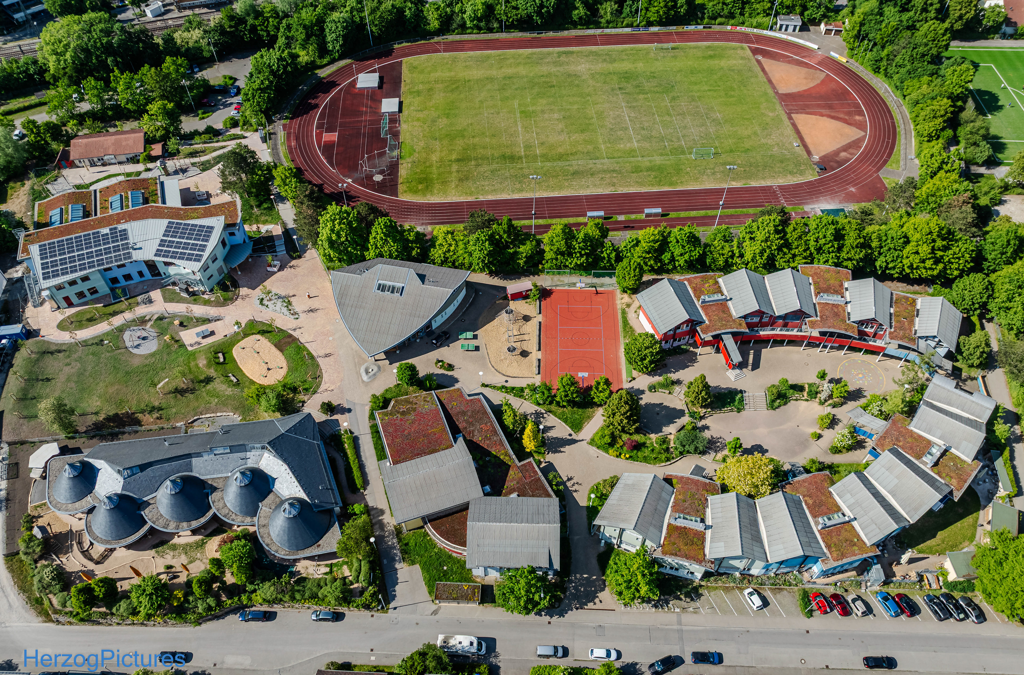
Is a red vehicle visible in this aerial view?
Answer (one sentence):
Yes, I can see a red vehicle in this picture.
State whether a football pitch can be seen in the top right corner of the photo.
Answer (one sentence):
Yes, a football pitch appears in the top right corner of the photo.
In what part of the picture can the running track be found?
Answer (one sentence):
The running track appears toward the top of the photo.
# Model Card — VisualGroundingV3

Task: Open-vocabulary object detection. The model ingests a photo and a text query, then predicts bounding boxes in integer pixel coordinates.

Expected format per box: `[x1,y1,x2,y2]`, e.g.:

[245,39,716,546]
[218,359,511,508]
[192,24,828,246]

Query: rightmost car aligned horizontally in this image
[861,653,899,671]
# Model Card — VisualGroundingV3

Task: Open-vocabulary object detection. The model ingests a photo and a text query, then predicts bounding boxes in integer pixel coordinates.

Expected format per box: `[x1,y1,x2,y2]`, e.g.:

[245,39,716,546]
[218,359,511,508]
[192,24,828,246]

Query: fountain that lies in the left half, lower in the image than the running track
[361,361,381,381]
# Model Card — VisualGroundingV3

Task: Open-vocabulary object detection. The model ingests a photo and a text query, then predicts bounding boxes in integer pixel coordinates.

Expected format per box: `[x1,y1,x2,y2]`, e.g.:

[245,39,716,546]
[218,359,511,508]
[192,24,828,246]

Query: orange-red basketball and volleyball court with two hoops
[540,288,623,395]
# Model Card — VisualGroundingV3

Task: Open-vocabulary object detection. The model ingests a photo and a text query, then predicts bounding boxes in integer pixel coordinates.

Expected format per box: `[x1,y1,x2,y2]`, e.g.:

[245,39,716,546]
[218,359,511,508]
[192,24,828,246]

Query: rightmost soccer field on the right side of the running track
[943,46,1024,166]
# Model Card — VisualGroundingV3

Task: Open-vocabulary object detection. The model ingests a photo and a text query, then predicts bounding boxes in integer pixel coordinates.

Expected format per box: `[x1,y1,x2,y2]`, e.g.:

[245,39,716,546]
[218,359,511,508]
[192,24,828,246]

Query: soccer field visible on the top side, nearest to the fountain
[397,42,821,201]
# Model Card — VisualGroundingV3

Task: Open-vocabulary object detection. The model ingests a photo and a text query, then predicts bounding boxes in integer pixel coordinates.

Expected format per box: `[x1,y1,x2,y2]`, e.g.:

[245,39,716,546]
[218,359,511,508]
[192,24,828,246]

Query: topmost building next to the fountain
[330,257,476,361]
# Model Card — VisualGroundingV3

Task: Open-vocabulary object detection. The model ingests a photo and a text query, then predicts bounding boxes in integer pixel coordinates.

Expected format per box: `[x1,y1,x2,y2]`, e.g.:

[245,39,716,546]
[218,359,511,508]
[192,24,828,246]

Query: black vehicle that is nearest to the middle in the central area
[432,331,449,346]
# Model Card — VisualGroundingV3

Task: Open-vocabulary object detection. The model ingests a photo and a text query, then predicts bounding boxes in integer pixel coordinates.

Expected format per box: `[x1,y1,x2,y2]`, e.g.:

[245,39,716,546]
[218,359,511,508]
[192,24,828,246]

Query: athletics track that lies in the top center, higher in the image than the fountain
[287,30,909,240]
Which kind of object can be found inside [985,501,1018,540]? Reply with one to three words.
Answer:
shed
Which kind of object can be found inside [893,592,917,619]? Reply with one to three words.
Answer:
car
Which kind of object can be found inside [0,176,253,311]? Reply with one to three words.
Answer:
building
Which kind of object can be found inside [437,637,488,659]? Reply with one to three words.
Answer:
camper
